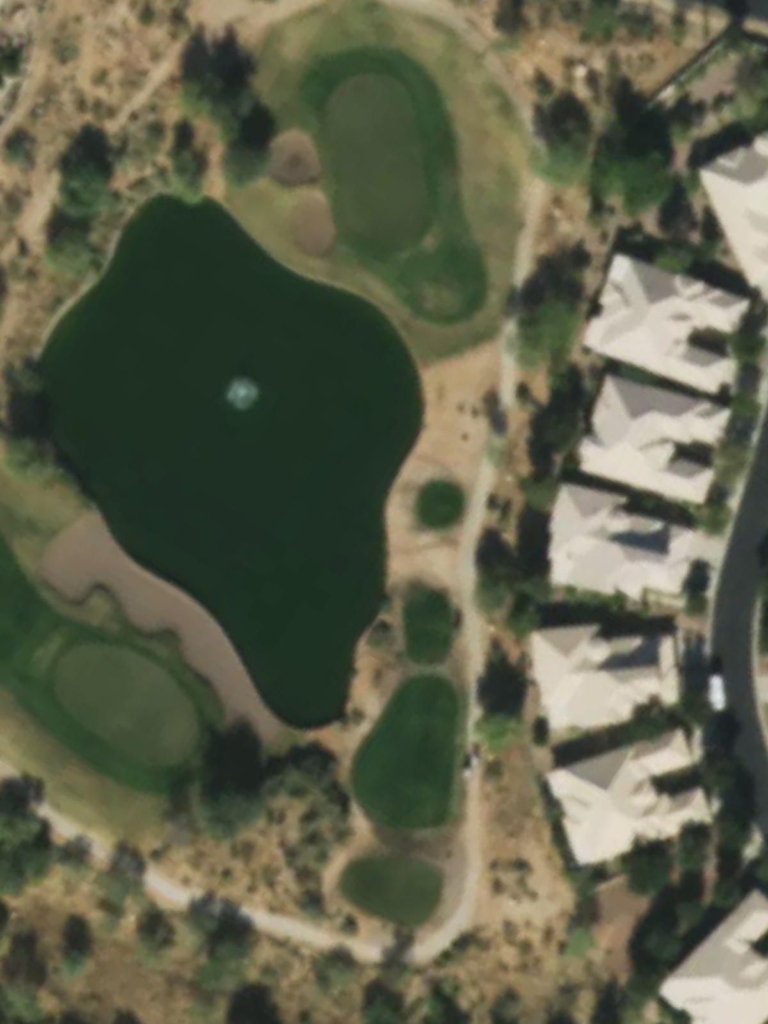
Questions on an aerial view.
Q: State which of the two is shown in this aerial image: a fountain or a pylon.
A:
fountain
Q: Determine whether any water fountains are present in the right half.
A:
No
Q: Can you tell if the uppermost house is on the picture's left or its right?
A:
right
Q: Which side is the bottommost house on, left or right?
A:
right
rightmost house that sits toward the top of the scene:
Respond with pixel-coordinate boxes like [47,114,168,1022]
[702,130,768,288]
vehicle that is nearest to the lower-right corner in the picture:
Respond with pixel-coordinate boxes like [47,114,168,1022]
[708,676,726,710]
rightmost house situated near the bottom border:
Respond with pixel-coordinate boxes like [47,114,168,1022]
[661,890,768,1024]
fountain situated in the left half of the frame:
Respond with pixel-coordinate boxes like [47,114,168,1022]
[224,374,259,409]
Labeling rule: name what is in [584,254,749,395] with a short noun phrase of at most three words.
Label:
house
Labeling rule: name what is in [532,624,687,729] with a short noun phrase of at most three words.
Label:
house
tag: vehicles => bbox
[470,754,479,770]
[462,766,471,783]
[708,676,726,710]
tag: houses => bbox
[532,624,687,729]
[547,731,713,868]
[543,484,696,602]
[584,254,749,395]
[581,374,731,504]
[702,130,768,288]
[661,890,768,1024]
